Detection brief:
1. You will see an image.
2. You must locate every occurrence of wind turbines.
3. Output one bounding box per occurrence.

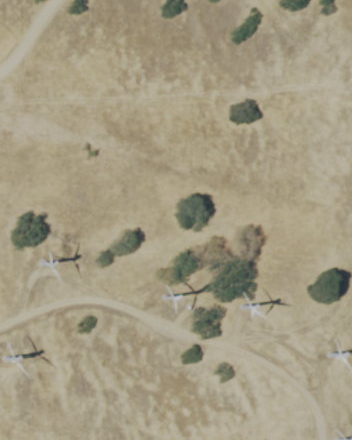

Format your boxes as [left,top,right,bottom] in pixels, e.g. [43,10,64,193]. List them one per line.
[238,290,264,318]
[38,252,61,284]
[2,344,28,376]
[326,340,352,374]
[160,282,184,318]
